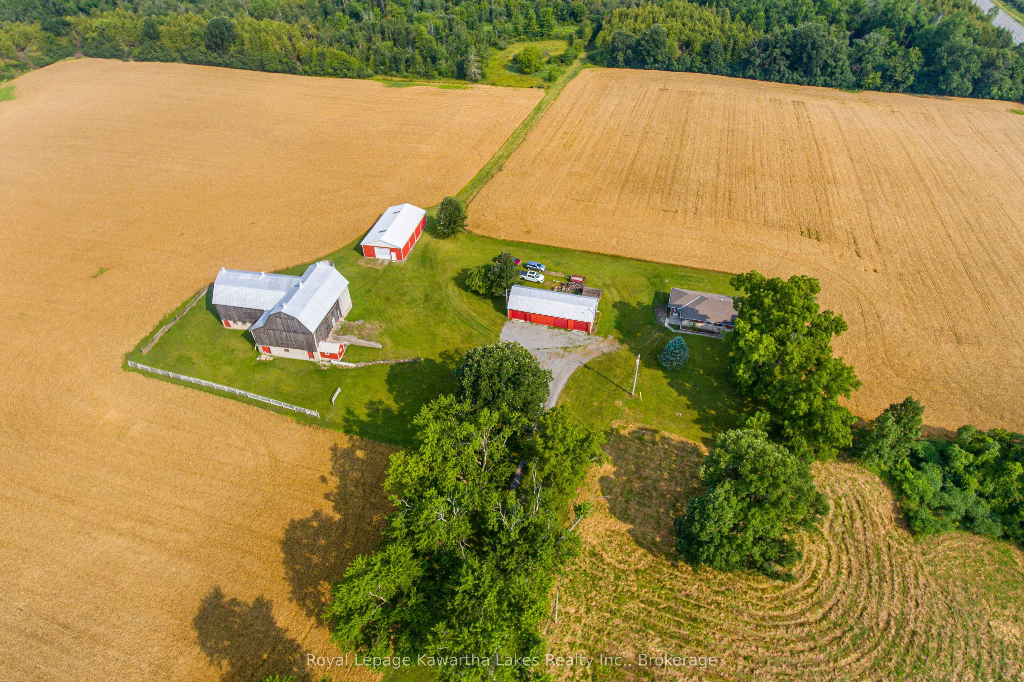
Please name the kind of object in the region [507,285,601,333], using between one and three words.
building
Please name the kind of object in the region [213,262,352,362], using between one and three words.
barn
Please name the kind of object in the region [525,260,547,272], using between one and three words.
vehicle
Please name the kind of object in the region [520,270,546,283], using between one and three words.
vehicle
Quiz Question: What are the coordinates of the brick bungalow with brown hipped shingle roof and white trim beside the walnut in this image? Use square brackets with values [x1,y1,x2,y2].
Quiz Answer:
[668,287,745,336]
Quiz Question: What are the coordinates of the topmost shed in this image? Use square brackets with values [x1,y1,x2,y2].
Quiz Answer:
[361,203,428,261]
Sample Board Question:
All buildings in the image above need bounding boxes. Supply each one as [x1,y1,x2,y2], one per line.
[361,203,428,261]
[668,287,745,336]
[213,262,352,362]
[507,285,601,333]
